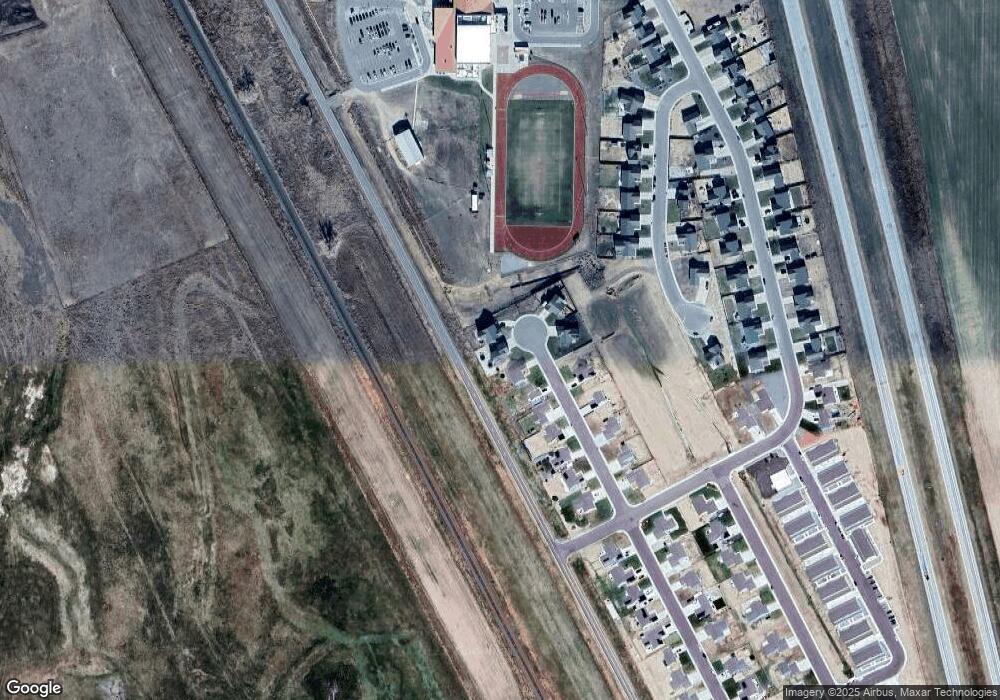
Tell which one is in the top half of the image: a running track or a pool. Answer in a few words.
running track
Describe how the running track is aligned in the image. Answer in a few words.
from top to bottom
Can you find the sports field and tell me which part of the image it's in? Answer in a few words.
top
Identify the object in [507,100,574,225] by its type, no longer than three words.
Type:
sports field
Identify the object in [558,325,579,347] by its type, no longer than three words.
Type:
house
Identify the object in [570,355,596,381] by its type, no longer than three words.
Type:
house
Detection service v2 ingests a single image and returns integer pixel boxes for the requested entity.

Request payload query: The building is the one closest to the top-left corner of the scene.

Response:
[395,129,423,164]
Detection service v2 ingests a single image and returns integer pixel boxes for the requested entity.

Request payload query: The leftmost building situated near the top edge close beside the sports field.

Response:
[434,0,502,75]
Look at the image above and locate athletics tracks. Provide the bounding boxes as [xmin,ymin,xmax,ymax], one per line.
[496,64,585,262]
